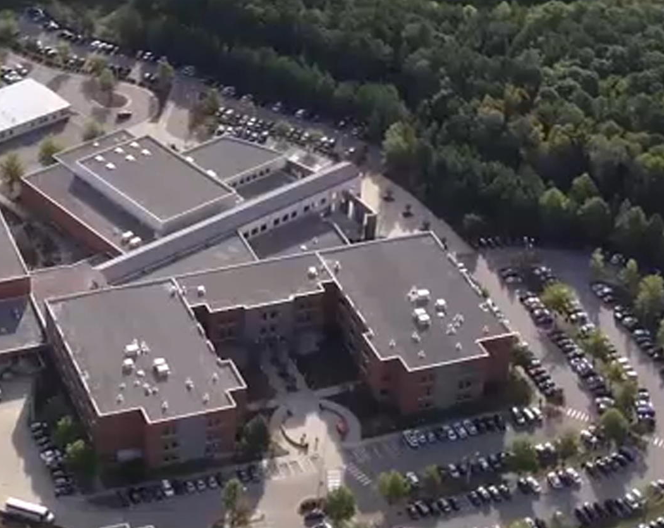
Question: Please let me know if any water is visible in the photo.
No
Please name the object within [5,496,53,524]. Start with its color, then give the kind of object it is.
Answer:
white bus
